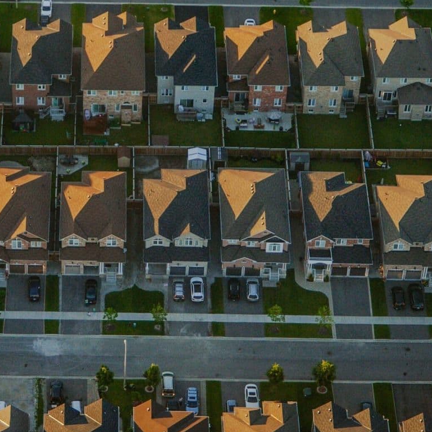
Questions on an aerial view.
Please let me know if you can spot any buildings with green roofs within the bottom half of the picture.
No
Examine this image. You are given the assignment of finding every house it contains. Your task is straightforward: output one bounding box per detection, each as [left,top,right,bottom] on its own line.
[0,170,52,274]
[367,15,432,124]
[131,395,210,432]
[218,168,291,288]
[0,397,33,432]
[373,176,432,291]
[9,13,75,124]
[223,17,291,114]
[81,11,145,132]
[221,398,301,432]
[57,171,126,288]
[43,396,123,432]
[153,13,218,119]
[295,17,365,123]
[142,169,211,286]
[309,400,390,432]
[299,172,373,287]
